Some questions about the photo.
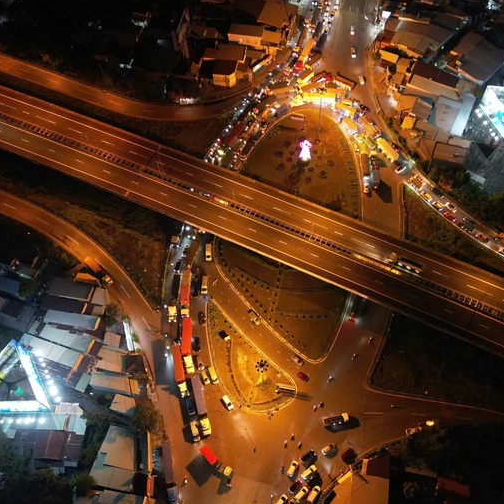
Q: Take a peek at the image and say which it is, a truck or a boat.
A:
truck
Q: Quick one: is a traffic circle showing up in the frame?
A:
Yes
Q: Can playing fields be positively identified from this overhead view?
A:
No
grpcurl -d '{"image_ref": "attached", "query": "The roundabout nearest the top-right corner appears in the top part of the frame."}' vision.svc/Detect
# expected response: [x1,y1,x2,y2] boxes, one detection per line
[238,107,365,221]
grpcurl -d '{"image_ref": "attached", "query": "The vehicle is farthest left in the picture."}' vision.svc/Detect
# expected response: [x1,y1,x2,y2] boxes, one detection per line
[86,259,113,287]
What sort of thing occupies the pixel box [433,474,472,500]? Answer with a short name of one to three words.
house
